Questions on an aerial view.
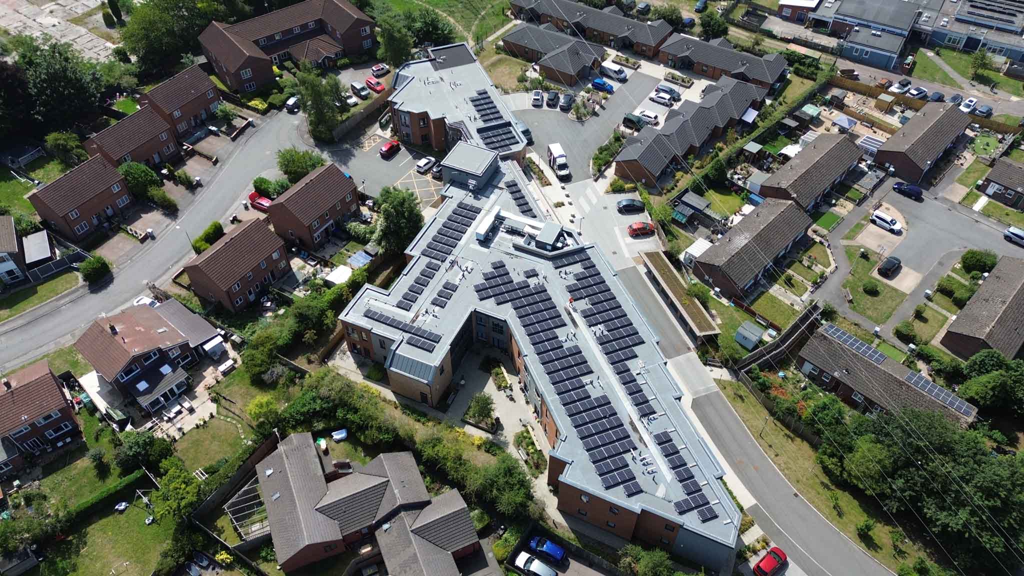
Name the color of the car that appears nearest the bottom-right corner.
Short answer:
red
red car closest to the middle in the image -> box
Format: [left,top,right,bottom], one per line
[628,224,655,237]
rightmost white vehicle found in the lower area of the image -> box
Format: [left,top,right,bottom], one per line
[516,552,557,576]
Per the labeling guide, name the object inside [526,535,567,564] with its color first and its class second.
blue car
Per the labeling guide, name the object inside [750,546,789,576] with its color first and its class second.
red car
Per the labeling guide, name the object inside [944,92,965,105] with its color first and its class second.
gray vehicle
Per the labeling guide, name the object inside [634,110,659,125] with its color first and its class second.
white car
